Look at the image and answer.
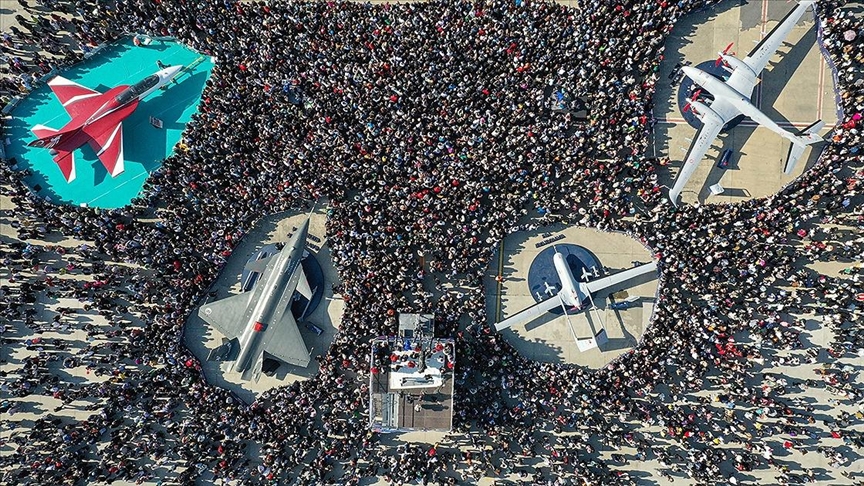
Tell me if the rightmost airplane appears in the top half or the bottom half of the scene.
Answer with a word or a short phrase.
top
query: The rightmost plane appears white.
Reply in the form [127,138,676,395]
[672,0,827,208]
